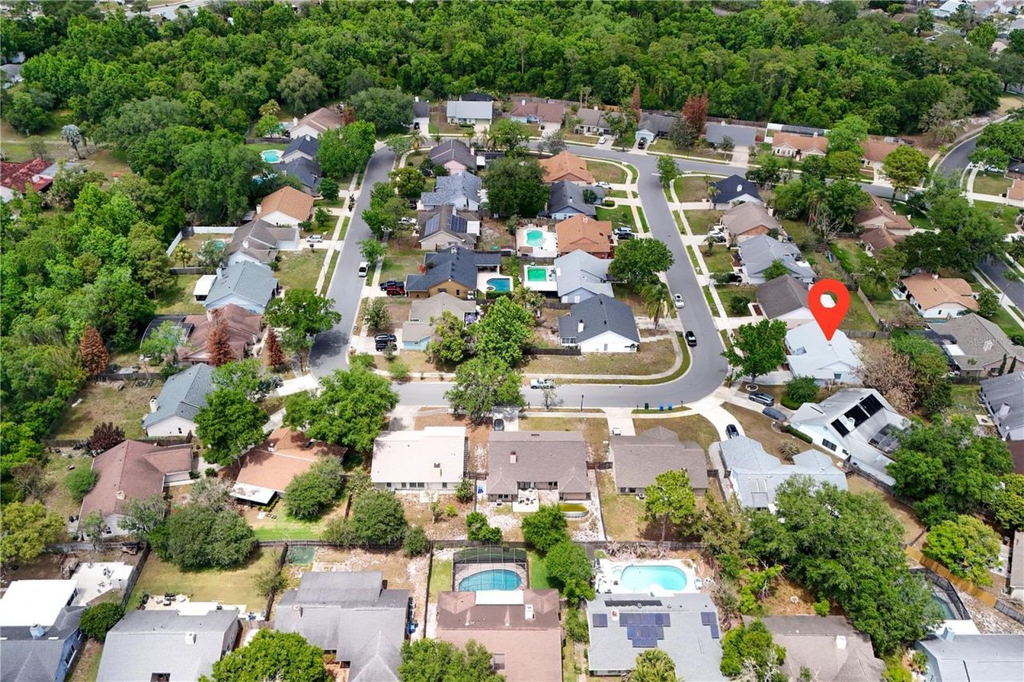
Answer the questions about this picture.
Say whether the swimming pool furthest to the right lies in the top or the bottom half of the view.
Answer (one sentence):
The swimming pool furthest to the right sits in the bottom half of the picture.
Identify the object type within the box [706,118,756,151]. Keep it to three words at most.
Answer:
house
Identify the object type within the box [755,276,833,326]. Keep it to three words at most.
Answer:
house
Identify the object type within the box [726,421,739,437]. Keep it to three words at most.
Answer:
vehicle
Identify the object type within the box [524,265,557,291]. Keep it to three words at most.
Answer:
swimming pool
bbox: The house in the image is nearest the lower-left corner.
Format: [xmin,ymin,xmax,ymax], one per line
[0,580,90,682]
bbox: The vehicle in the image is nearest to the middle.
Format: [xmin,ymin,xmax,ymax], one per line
[531,376,556,388]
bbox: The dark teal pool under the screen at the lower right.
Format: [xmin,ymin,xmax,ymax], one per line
[913,566,967,623]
